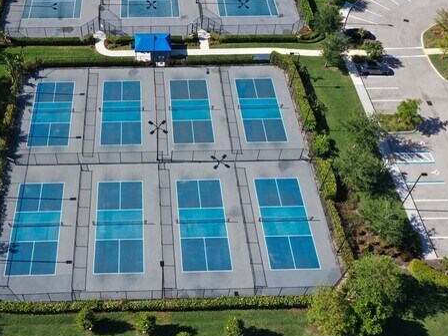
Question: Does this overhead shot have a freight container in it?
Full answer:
No, no freight container is visible in the view.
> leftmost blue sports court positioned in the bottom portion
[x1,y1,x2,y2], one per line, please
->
[4,182,64,275]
